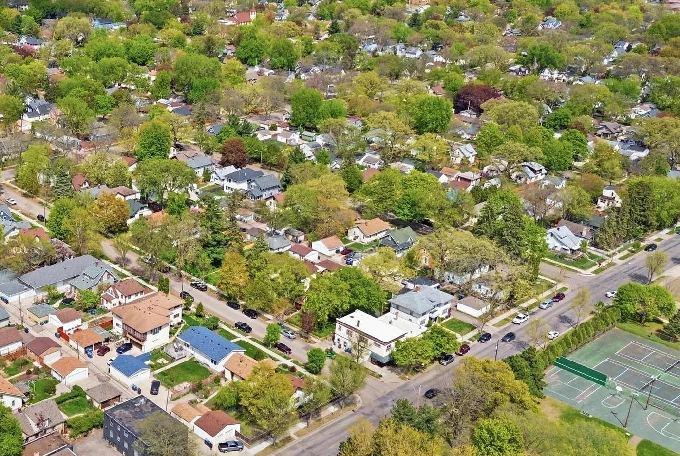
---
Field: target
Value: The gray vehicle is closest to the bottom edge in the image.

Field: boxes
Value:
[219,439,243,455]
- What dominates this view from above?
trees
